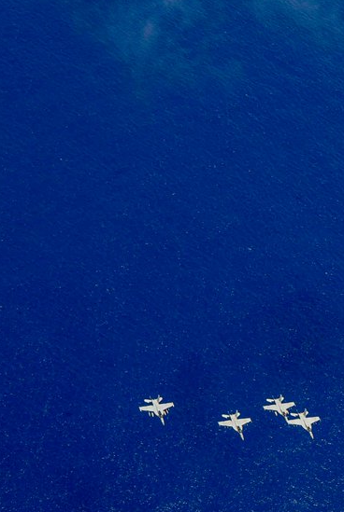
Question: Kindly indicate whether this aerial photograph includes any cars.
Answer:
No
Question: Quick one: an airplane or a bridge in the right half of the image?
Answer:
airplane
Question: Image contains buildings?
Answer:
No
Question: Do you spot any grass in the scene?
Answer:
No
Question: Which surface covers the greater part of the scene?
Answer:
water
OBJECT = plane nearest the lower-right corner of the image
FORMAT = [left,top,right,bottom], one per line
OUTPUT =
[287,408,320,439]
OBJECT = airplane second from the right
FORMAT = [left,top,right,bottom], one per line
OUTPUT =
[263,394,296,423]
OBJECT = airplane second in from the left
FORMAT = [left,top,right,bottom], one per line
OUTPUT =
[218,410,252,440]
